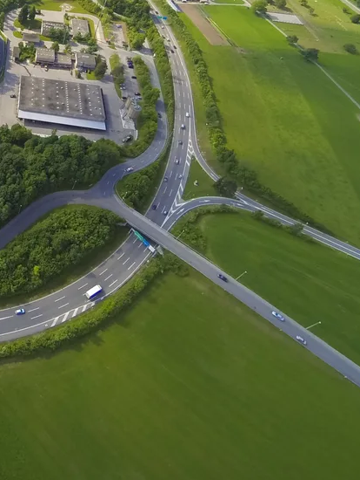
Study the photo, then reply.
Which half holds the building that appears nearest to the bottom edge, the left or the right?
left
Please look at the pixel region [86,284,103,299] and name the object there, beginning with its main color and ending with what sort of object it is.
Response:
white vehicle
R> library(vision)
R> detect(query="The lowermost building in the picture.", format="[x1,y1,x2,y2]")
[17,76,105,135]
